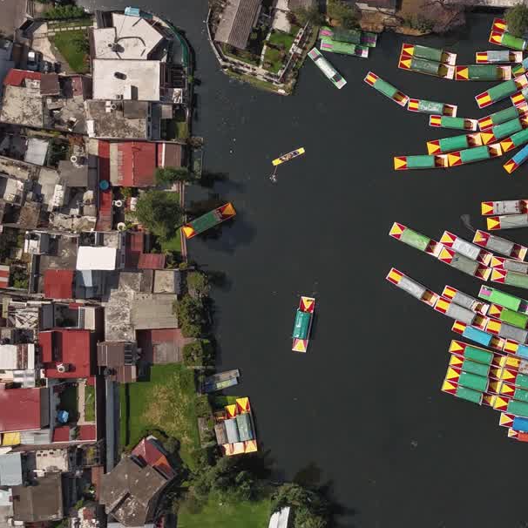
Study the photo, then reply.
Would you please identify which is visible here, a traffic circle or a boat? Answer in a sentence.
Visible in the photo is a boat.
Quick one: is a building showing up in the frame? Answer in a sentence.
Yes, the image includes a building.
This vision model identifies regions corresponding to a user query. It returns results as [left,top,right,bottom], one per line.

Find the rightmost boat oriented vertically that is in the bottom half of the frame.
[293,296,314,353]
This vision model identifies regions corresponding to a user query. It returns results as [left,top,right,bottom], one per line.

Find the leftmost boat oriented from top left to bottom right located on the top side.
[308,48,346,88]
